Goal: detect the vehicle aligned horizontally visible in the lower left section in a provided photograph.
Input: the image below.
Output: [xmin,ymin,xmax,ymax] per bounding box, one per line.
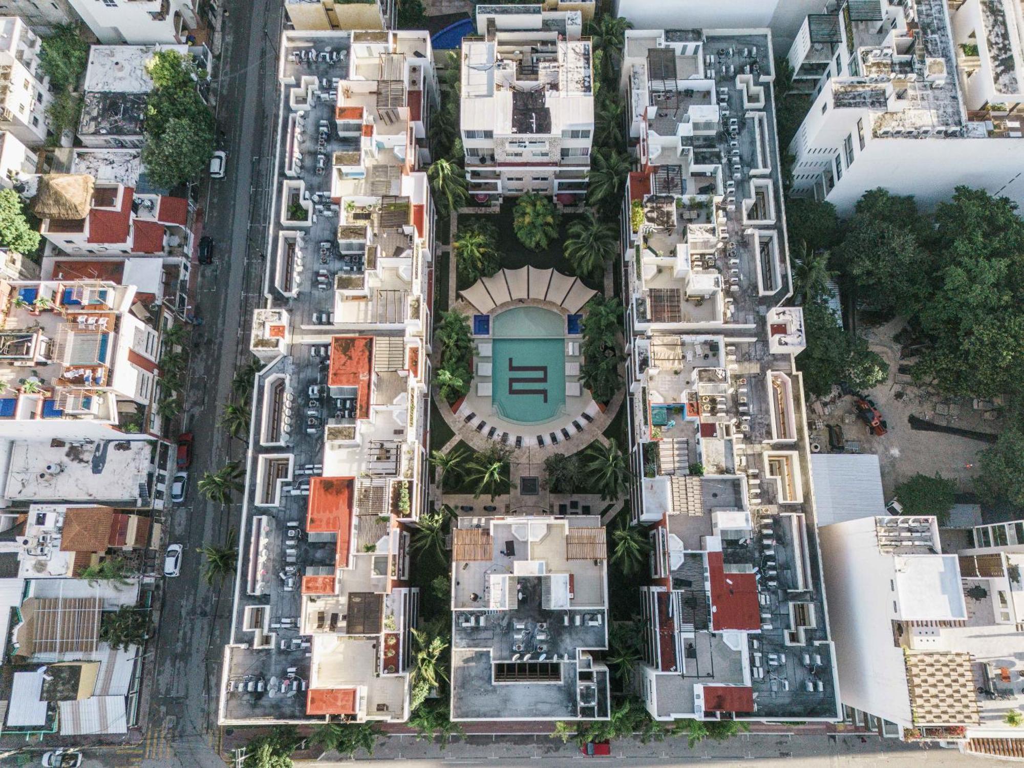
[42,748,86,768]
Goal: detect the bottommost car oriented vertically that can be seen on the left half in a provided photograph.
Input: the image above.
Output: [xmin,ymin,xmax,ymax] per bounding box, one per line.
[165,542,186,579]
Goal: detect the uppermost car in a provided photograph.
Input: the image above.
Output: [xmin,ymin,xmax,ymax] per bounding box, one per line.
[210,153,227,179]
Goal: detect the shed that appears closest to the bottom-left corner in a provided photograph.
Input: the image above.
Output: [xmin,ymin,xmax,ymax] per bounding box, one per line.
[9,670,65,726]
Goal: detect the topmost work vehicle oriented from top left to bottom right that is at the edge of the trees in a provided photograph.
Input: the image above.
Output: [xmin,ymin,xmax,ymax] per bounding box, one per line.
[847,394,893,447]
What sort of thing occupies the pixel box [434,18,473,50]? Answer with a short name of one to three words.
swimming pool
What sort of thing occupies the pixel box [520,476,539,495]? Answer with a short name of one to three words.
fountain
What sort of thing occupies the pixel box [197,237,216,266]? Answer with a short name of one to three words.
car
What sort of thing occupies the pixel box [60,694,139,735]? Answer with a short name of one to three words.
shed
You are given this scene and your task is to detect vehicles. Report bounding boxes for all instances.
[210,153,227,179]
[165,542,186,579]
[42,748,86,768]
[197,237,216,266]
[847,394,893,447]
[171,471,191,504]
[578,740,614,759]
